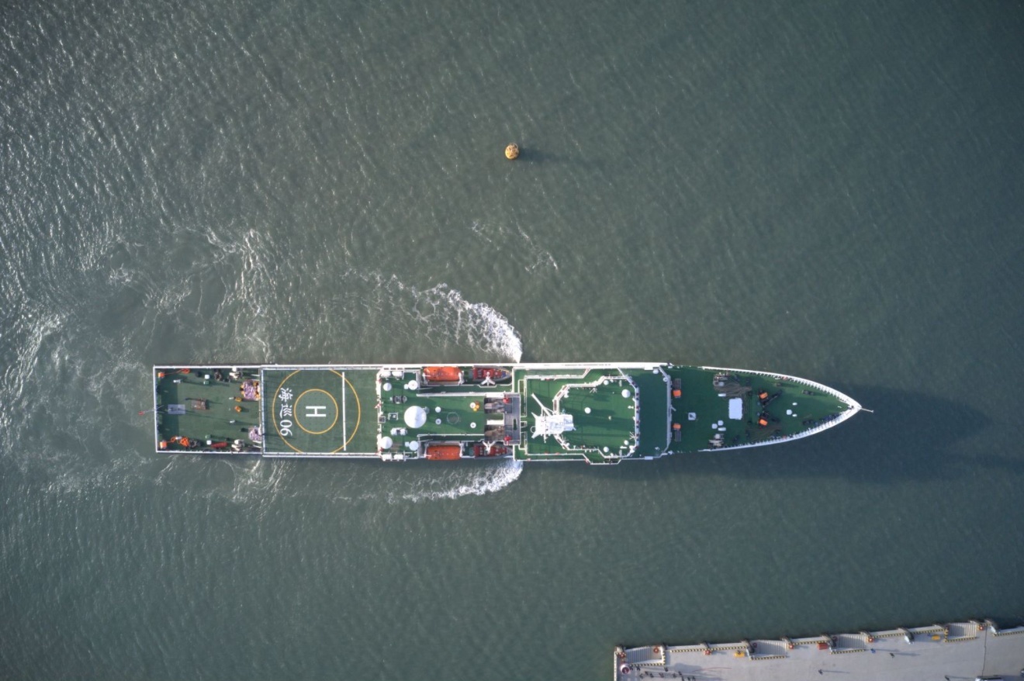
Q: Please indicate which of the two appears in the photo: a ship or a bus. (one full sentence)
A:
Looking from above, you can make out a ship.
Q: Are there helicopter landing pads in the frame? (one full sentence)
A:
Yes, the photo shows a helicopter landing pad.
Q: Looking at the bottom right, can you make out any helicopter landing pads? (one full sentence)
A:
No, looking at the bottom right, there is no helicopter landing pad.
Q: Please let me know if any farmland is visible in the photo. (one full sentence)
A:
No, there's no farmland in this view.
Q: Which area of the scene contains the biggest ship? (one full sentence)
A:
The biggest ship is in the center part of the image.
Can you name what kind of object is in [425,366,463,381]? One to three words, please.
boat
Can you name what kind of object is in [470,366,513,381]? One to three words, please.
boat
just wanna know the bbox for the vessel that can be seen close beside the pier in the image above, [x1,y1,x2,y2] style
[142,360,874,464]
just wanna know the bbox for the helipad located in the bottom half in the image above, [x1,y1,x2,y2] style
[260,365,379,457]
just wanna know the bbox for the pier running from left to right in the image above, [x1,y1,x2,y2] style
[613,615,1024,681]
